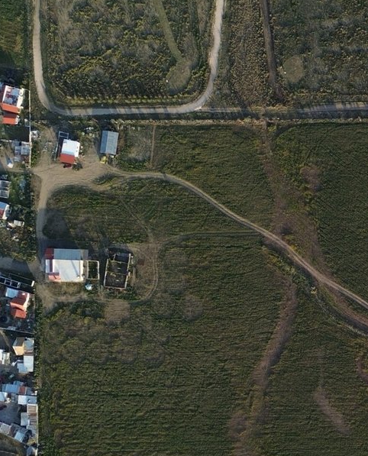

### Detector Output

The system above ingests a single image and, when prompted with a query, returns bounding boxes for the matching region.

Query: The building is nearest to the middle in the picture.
[106,253,134,290]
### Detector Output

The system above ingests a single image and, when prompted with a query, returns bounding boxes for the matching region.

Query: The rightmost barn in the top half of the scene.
[99,130,122,156]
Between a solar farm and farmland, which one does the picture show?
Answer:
farmland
